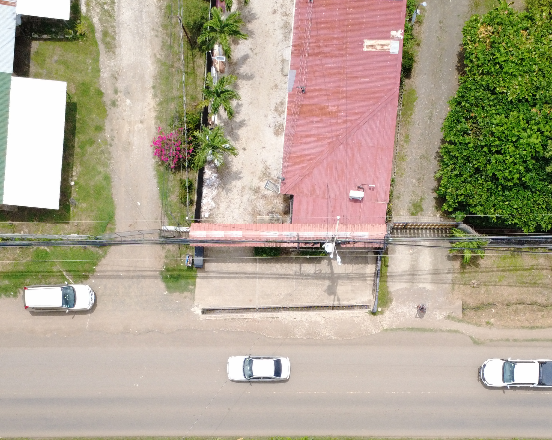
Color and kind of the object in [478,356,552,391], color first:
white truck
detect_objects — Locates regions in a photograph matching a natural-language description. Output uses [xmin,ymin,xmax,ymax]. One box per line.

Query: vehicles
[27,281,98,314]
[478,356,552,391]
[226,354,291,384]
